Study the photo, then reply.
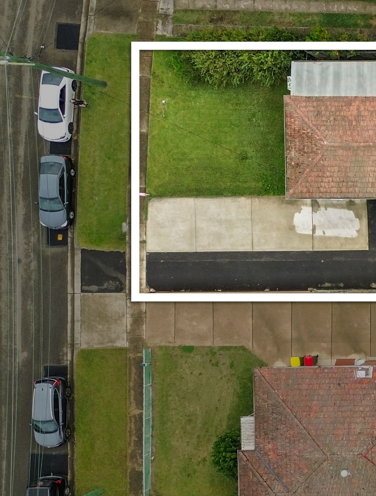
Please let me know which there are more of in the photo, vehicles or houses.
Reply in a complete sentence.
More vehicles than houses appear in the image.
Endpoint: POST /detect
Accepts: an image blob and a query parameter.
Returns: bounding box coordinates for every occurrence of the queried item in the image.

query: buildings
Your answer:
[284,94,376,201]
[235,365,376,496]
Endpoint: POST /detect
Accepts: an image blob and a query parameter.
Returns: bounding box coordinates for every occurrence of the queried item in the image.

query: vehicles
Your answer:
[34,65,80,143]
[25,476,72,496]
[29,376,73,447]
[34,153,79,231]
